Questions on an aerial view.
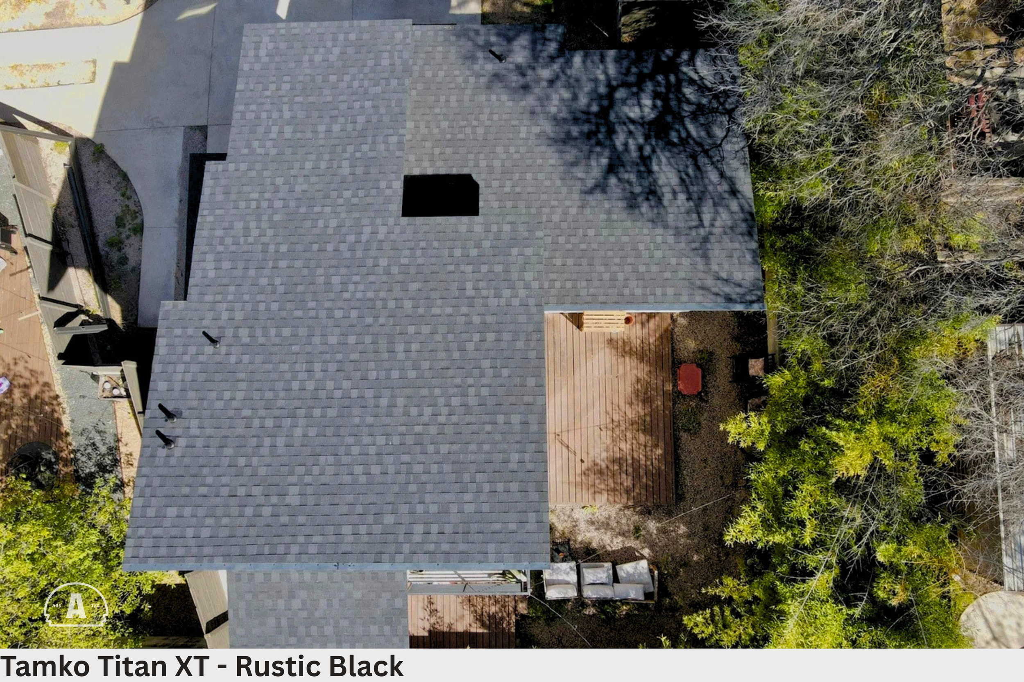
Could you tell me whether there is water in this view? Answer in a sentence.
No, the scene doesn't show any water.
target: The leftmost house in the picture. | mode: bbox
[122,18,766,682]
